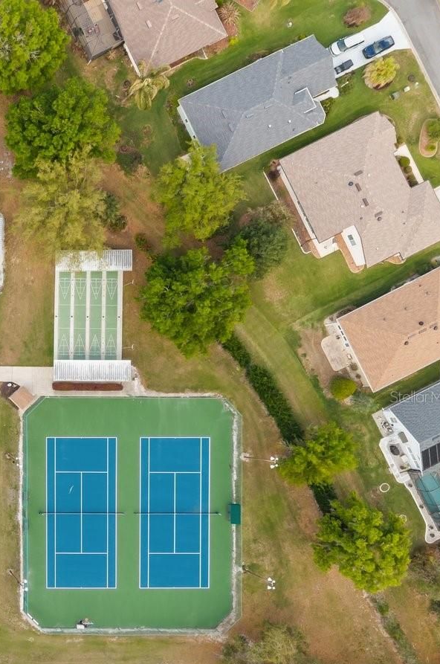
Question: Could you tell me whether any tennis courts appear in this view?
Yes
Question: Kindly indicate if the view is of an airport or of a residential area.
residential area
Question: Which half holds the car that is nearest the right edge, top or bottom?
top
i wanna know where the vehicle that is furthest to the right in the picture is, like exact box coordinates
[361,36,395,59]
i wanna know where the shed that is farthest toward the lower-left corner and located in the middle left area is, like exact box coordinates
[7,386,36,410]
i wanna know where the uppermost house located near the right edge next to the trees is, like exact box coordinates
[273,112,440,269]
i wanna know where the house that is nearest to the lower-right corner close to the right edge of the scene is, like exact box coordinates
[372,378,440,471]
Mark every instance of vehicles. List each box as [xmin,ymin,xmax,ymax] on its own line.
[361,36,395,59]
[329,31,366,57]
[336,59,353,76]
